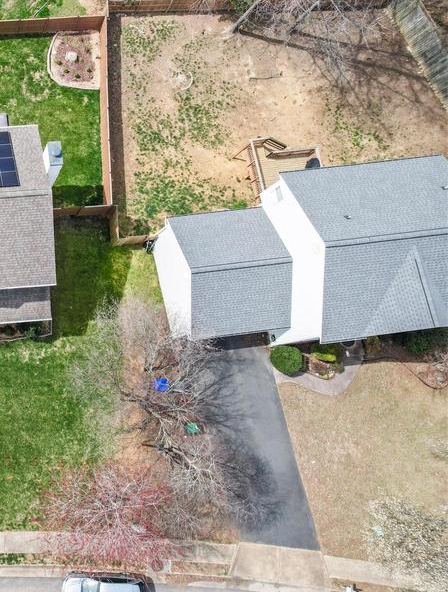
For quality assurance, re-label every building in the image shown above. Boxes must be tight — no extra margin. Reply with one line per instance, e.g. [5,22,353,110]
[154,153,448,369]
[0,123,61,325]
